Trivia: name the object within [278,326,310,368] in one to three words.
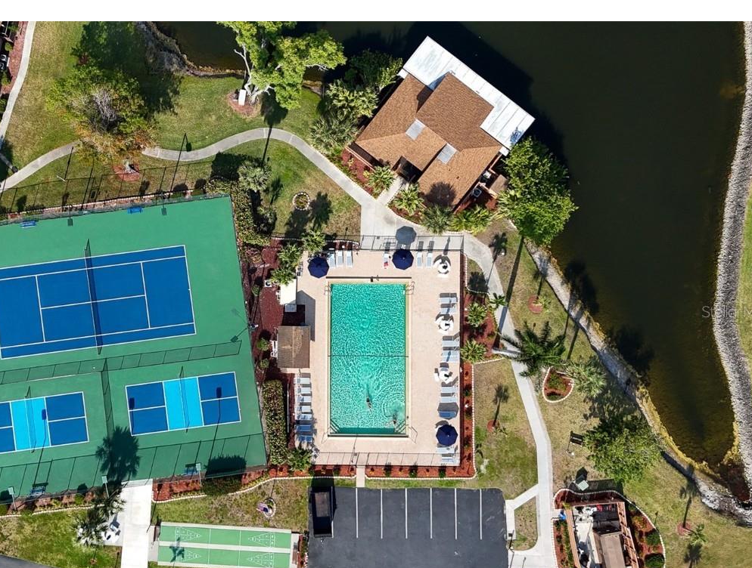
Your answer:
shed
